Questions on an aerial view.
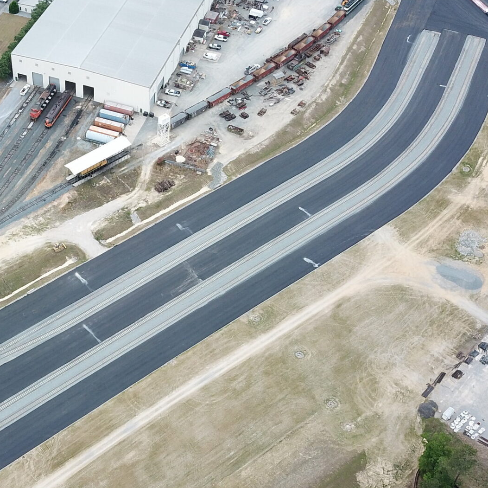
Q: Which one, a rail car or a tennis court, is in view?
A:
rail car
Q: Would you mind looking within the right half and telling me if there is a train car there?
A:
Yes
